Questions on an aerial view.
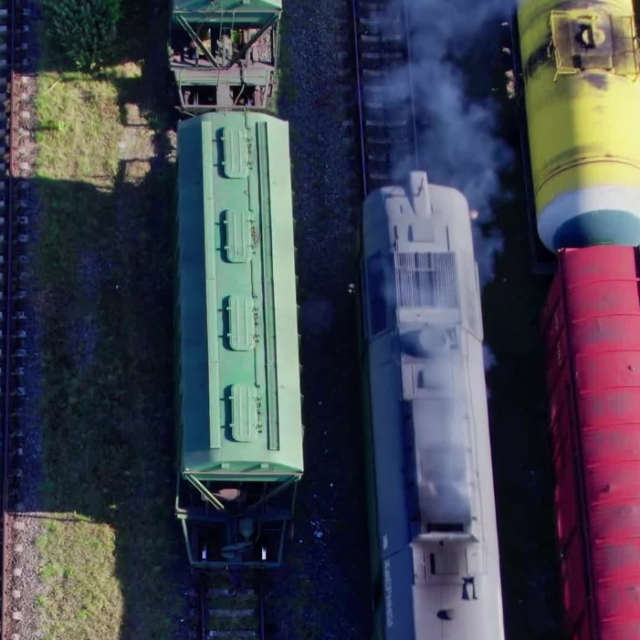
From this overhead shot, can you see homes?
No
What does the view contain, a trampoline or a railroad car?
railroad car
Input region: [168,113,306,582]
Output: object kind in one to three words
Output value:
rail car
